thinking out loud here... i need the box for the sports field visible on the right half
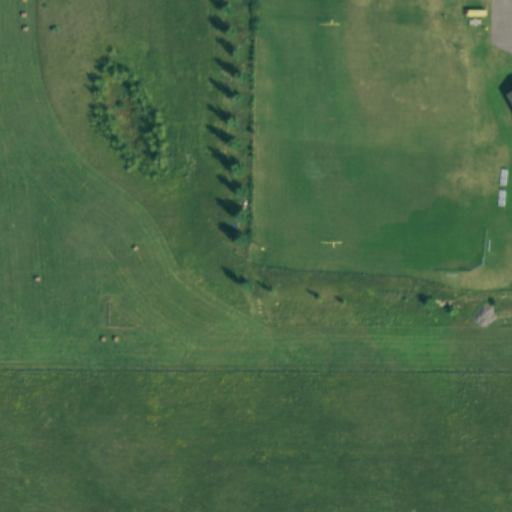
[251,0,487,271]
